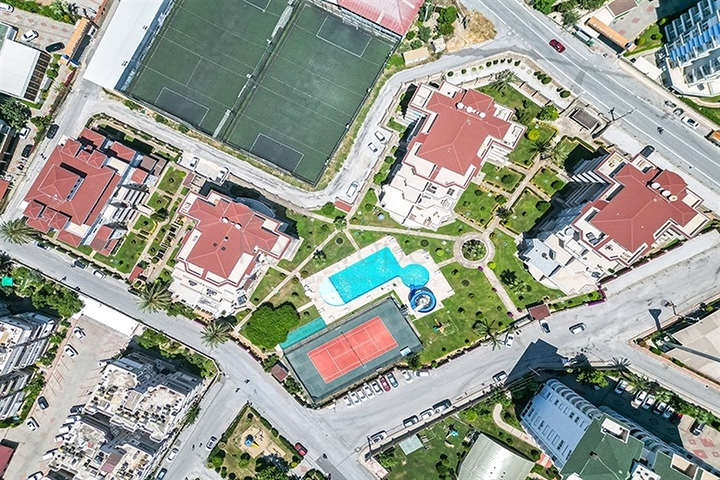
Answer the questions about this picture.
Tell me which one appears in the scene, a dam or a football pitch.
football pitch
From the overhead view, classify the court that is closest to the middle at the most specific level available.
tennis court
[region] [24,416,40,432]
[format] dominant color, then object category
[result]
white car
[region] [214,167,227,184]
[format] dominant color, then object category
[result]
white vehicle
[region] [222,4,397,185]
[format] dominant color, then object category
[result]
green soccer field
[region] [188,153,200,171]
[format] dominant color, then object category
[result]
white vehicle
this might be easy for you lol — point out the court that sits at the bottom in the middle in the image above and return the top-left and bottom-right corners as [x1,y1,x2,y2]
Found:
[283,298,424,401]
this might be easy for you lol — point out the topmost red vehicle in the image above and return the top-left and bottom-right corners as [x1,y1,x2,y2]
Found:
[548,39,565,53]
